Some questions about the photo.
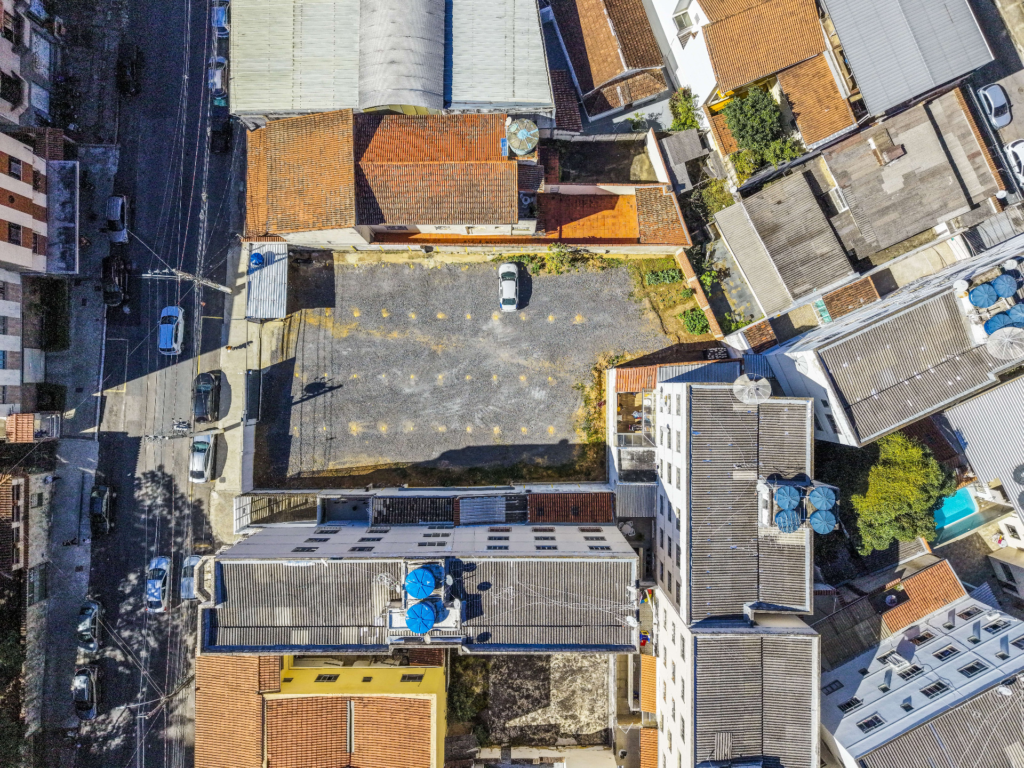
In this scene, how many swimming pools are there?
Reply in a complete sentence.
The picture shows 1 swimming pool.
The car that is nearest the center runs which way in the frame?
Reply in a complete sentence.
Seen from above, the car that is nearest the center lies vertically.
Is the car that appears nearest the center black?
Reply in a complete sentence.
No, the color of the car that appears nearest the center is white.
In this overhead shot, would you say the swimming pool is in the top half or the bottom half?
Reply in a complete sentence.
You can find the swimming pool in the bottom half.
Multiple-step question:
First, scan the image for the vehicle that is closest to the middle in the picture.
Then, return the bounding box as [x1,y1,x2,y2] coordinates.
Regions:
[497,263,520,312]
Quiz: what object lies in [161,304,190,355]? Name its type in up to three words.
car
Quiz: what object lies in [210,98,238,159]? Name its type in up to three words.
truck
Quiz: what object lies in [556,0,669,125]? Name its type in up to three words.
house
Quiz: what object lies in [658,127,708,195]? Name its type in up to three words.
shed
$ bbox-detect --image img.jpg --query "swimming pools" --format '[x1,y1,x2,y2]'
[923,487,983,541]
